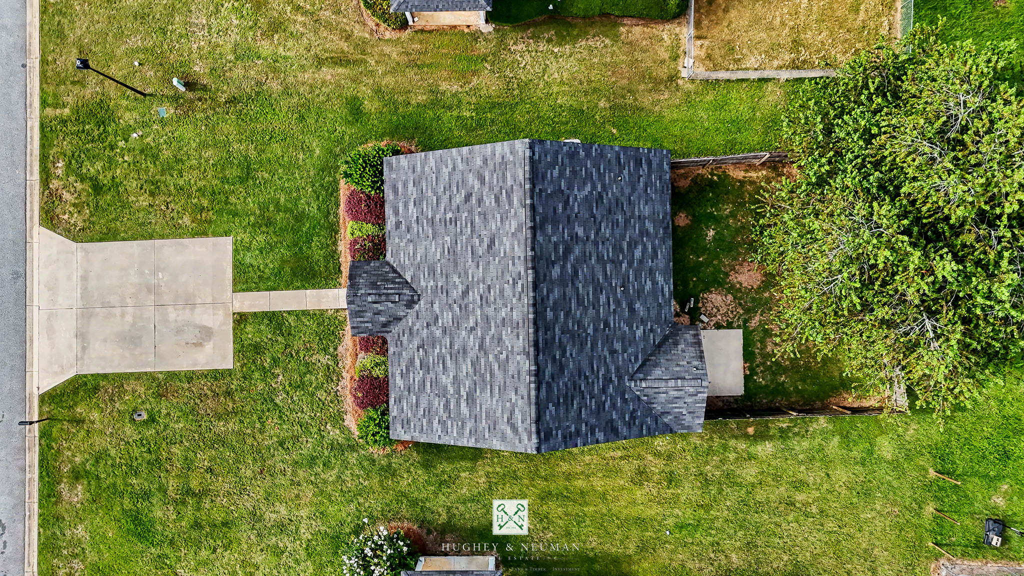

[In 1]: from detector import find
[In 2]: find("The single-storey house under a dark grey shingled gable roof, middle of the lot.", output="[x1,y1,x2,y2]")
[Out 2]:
[346,138,709,453]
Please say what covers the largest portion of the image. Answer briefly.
grass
